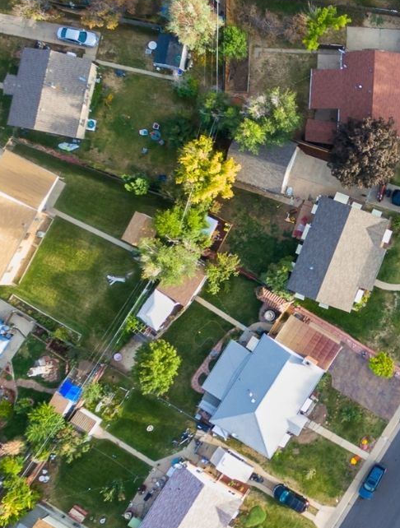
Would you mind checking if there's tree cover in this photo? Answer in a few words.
Yes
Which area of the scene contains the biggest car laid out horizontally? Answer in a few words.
top left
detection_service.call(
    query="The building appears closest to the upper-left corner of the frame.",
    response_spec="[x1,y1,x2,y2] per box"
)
[1,47,100,138]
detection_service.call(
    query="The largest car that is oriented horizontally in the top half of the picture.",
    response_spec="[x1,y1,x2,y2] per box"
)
[56,24,100,47]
